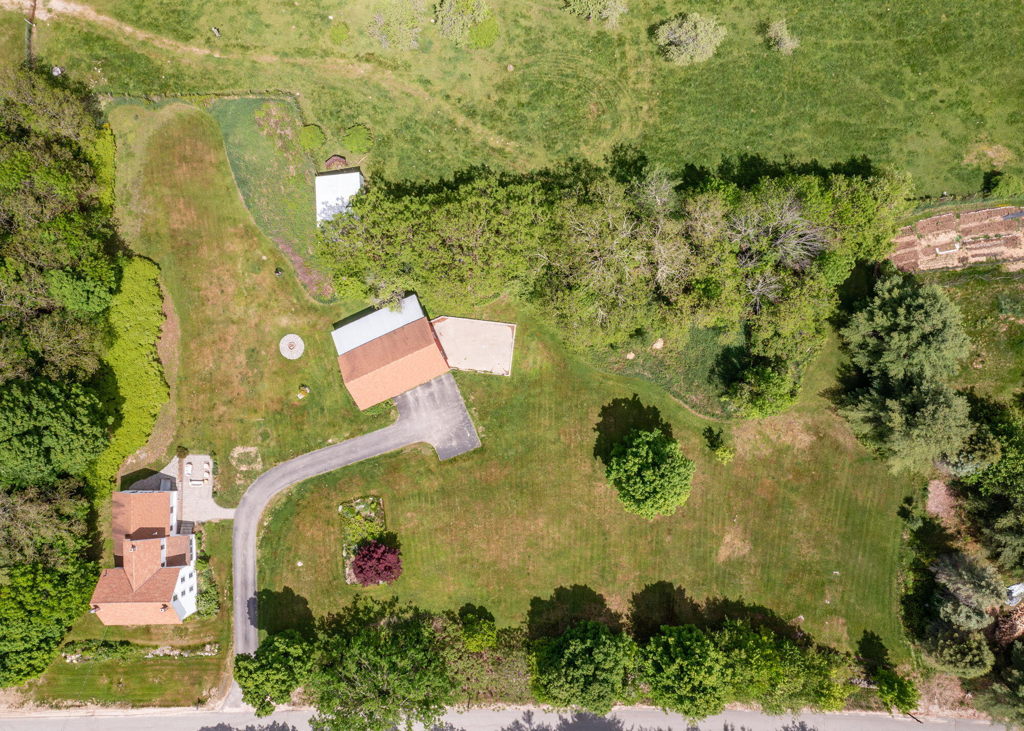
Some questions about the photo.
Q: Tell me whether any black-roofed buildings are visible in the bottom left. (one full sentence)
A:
No, looking in the bottom left, there is no black-roofed building.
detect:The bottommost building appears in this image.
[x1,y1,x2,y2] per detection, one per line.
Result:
[89,490,197,625]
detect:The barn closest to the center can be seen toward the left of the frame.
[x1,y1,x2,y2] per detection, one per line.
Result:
[332,297,450,411]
